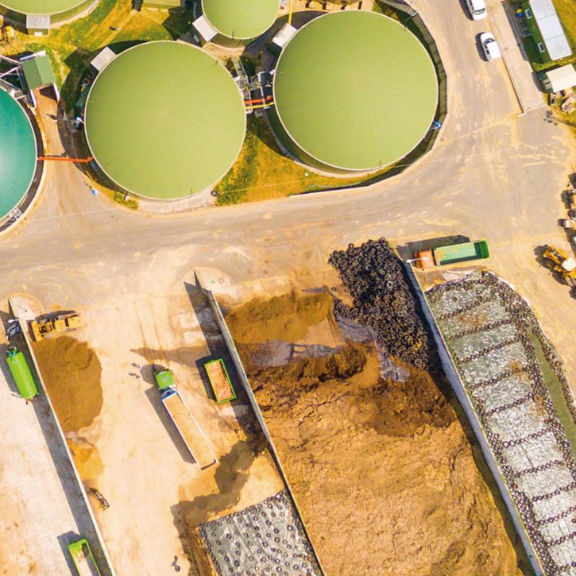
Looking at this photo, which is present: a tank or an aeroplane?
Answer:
tank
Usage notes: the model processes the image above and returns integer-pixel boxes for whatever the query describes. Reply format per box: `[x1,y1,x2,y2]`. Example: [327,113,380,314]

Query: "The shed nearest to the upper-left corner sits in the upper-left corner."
[26,15,51,36]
